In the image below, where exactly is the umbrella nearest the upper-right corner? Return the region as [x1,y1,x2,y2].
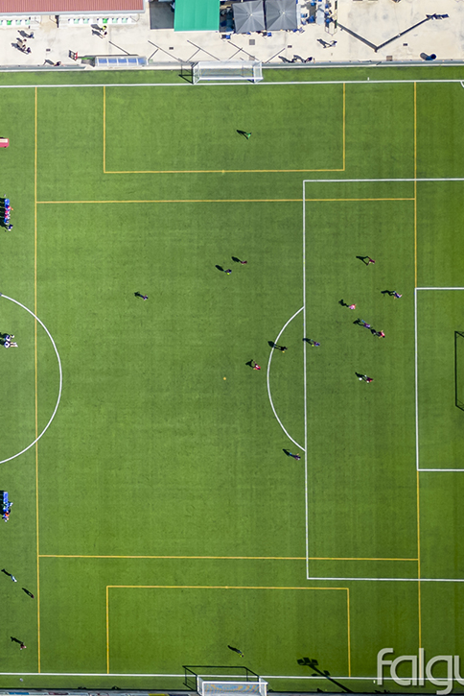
[265,0,297,31]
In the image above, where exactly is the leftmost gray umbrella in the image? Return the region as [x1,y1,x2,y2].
[231,0,265,34]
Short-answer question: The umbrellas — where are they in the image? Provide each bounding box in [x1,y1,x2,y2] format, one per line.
[231,0,265,34]
[265,0,297,31]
